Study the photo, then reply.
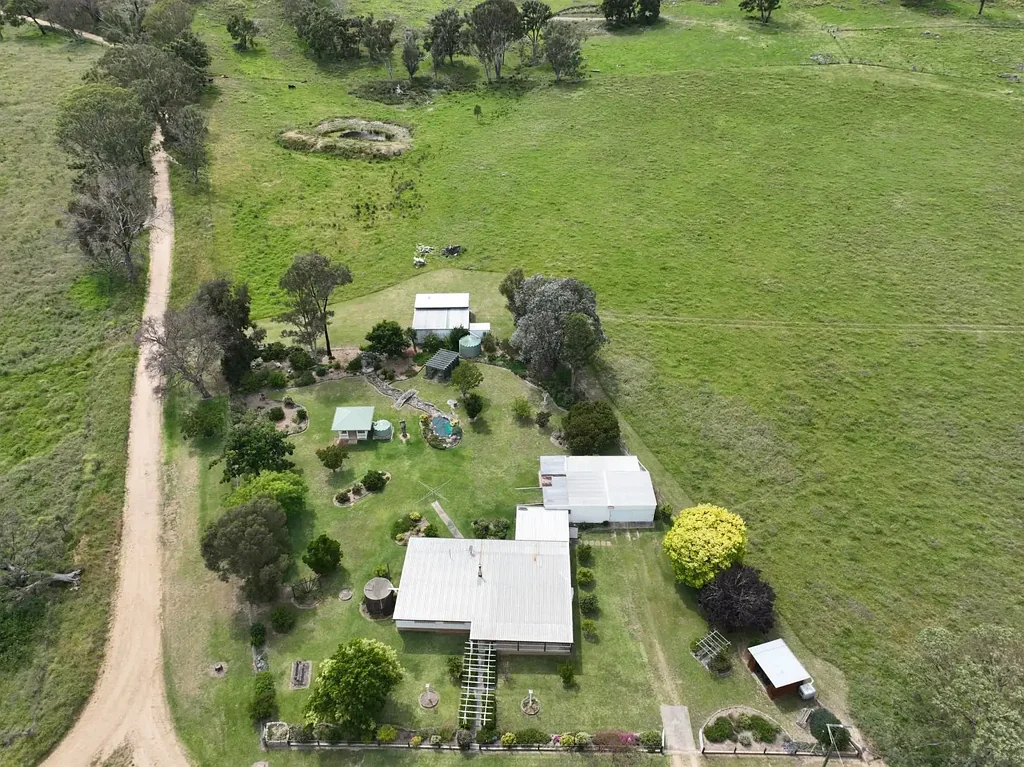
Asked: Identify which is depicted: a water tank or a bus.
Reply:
water tank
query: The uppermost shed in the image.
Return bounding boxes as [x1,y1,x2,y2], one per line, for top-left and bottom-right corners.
[411,292,489,343]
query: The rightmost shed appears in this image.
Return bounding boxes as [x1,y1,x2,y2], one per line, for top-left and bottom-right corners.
[746,638,810,701]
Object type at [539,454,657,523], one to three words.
building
